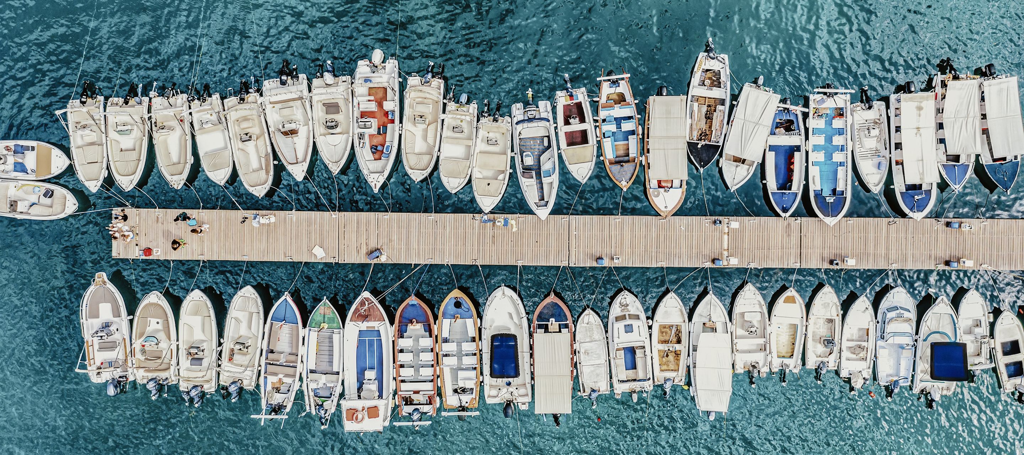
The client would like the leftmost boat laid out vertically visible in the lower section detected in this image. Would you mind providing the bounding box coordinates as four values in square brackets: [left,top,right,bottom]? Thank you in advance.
[76,271,136,397]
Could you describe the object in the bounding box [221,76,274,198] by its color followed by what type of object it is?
white boat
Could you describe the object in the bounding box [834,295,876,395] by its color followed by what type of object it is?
white boat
